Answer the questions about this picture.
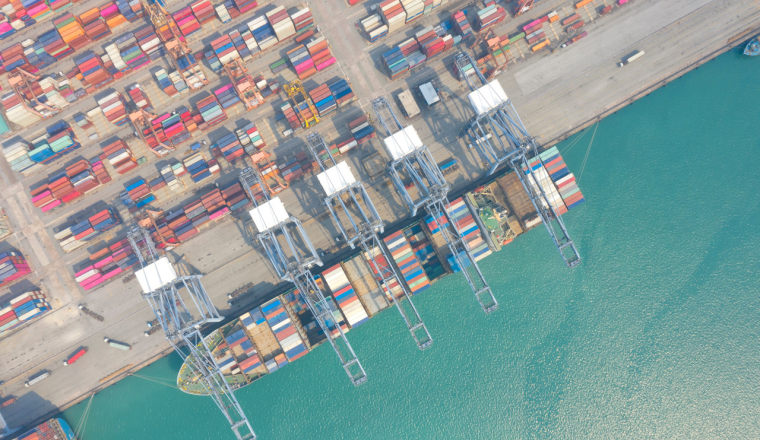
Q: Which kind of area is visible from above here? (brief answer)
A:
port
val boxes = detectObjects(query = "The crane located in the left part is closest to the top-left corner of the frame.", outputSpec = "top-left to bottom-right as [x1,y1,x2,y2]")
[7,70,60,122]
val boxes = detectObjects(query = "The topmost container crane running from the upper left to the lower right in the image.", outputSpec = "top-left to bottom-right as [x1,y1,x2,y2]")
[142,0,185,45]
